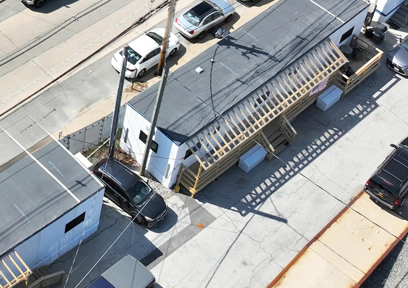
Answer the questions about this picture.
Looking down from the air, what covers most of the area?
paved ground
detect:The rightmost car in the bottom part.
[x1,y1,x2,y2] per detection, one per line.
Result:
[363,131,408,218]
